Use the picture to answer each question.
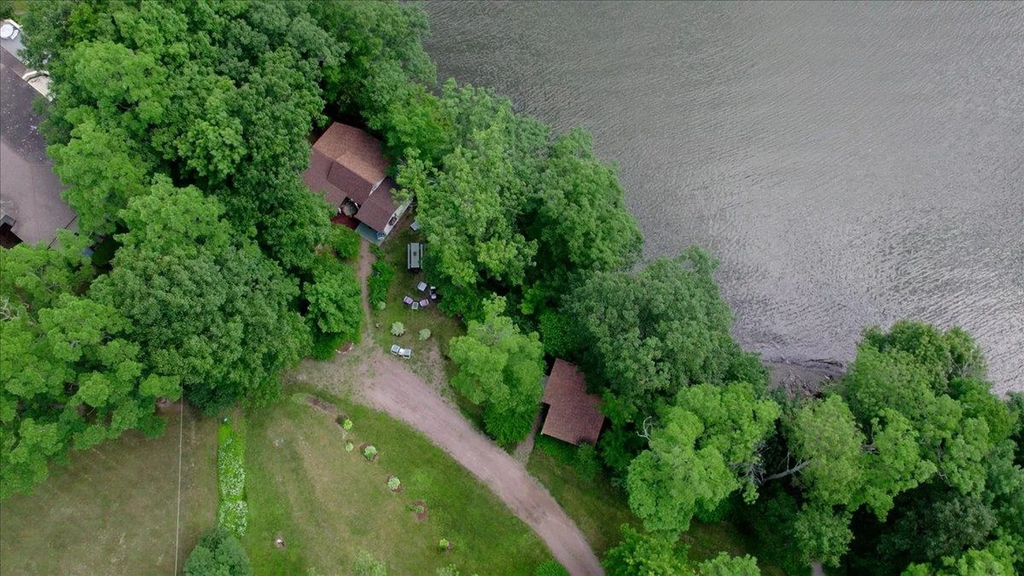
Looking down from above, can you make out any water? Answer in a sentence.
Yes, water can be seen from above here.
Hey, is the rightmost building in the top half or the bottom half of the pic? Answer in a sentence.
Seen from above, the rightmost building lies in the bottom half of the view.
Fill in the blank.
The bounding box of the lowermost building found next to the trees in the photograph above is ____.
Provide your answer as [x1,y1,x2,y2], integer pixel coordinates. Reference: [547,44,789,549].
[535,358,606,446]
